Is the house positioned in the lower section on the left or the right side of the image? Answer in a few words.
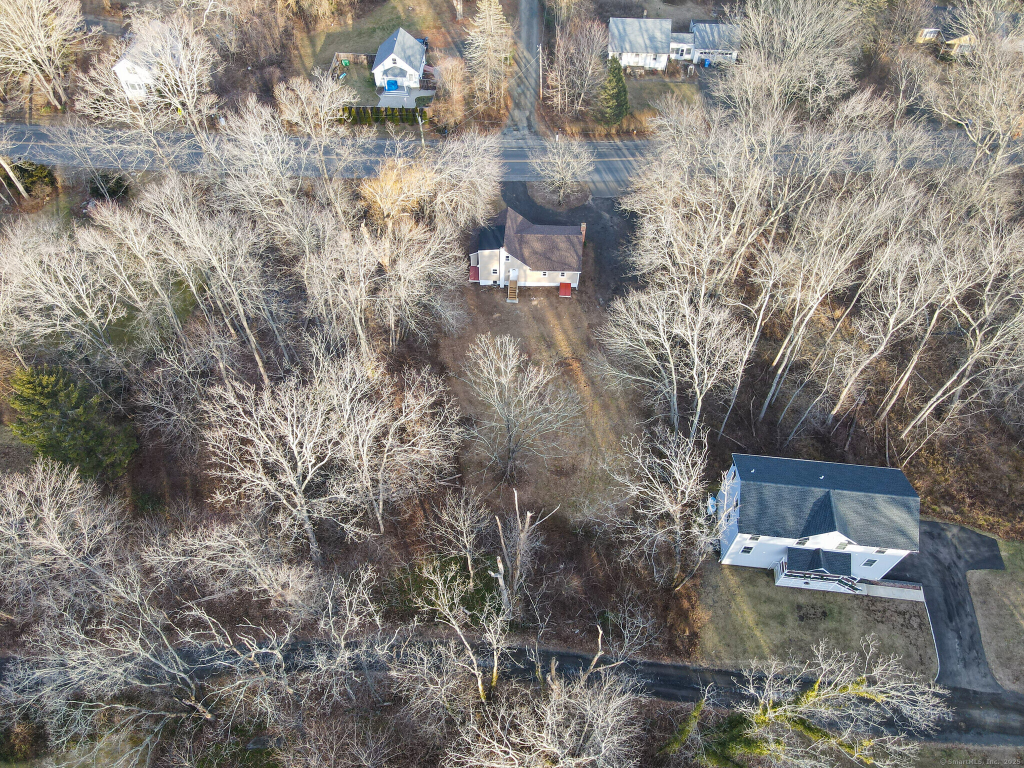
right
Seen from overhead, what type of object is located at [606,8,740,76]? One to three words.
house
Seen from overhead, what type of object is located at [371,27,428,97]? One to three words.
house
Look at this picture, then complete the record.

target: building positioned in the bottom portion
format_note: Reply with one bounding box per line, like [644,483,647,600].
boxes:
[716,454,921,594]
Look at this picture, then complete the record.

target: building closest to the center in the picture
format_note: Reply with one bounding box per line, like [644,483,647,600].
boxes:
[468,204,586,303]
